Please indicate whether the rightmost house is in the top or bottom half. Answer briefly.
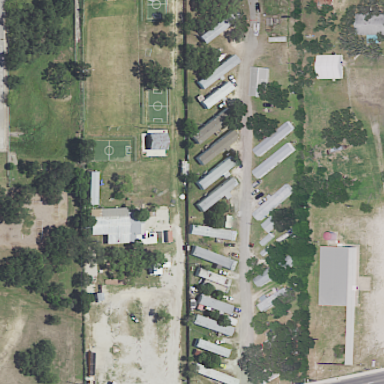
top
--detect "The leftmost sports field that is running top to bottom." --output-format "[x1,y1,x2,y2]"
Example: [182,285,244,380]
[84,0,138,136]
